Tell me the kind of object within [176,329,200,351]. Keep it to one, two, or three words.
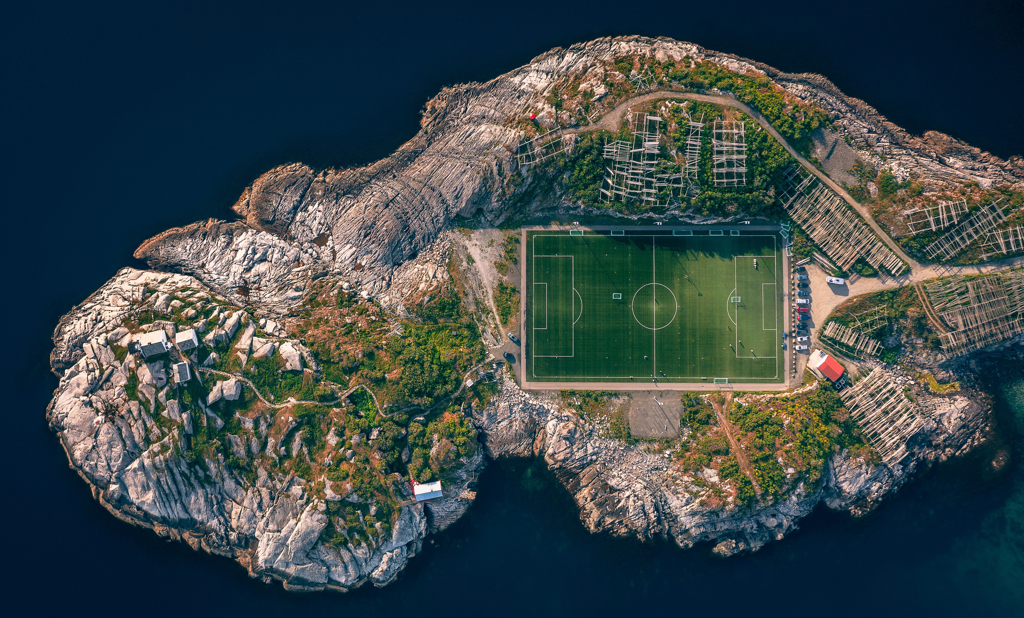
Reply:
house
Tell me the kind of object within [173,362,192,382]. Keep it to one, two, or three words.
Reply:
shed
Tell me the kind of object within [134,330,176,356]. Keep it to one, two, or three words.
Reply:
house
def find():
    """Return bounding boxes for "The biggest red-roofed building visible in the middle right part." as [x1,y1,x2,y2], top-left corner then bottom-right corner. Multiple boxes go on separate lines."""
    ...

[818,355,845,381]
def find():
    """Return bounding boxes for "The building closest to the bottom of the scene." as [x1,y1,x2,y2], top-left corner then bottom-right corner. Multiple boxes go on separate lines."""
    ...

[413,480,444,501]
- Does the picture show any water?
Yes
